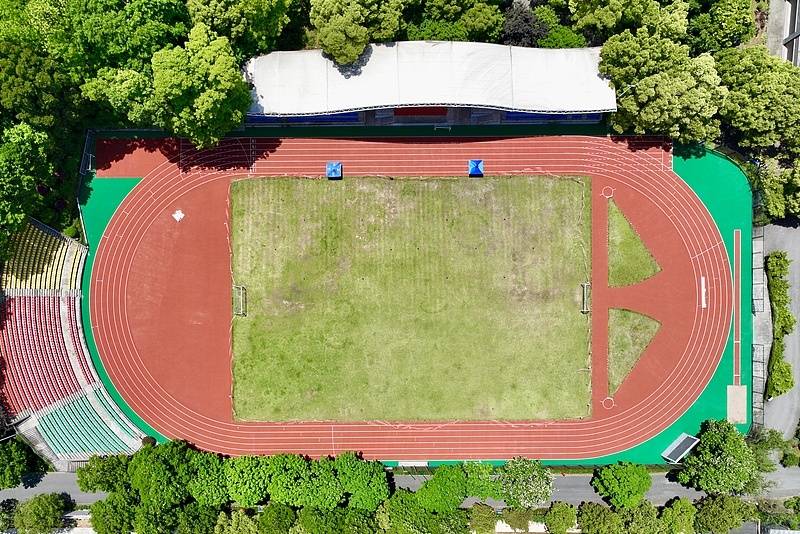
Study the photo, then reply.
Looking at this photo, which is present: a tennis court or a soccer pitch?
soccer pitch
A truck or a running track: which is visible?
running track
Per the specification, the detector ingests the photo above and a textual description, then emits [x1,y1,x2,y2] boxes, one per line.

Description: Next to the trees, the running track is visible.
[80,123,752,466]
